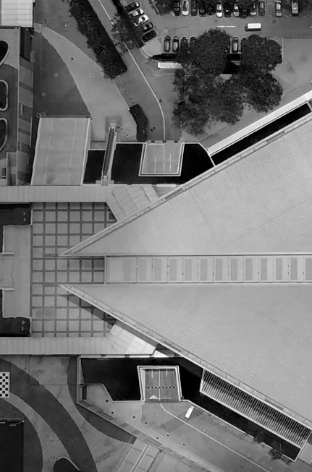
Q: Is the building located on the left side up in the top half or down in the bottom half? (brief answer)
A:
top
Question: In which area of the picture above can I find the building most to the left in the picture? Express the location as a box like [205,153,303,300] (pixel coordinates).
[31,117,96,186]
